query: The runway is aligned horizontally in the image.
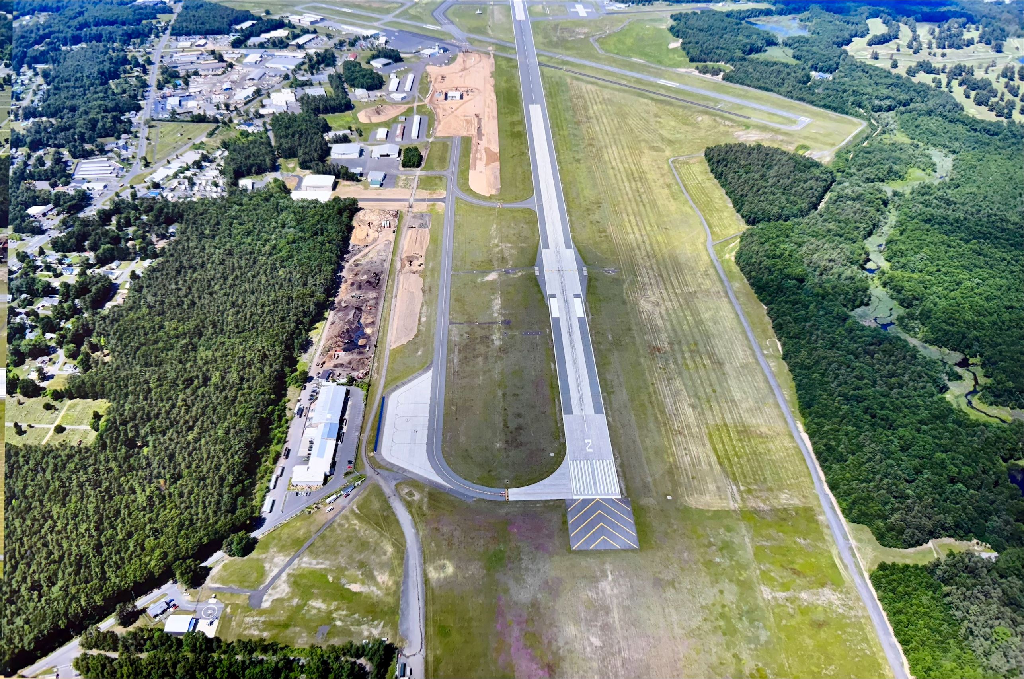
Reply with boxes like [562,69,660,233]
[315,3,805,121]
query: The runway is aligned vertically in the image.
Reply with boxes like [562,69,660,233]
[510,0,621,498]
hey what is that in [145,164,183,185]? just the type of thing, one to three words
building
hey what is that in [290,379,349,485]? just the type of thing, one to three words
building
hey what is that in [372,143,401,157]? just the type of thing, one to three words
hangar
